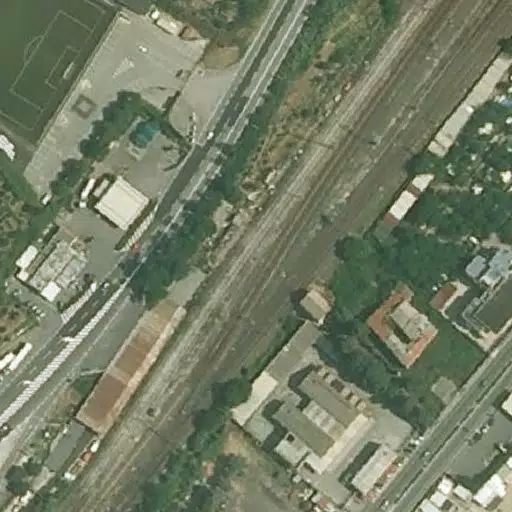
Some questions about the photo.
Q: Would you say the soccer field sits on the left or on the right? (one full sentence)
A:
It is on the left.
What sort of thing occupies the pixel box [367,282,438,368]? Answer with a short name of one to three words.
house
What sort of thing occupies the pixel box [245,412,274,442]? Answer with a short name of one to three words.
shed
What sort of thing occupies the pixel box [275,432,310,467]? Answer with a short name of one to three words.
building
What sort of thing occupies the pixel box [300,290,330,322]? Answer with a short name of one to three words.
house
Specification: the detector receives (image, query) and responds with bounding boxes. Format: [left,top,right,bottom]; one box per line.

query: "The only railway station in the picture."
[74,271,207,438]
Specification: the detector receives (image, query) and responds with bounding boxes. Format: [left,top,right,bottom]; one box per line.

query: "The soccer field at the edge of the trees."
[0,0,120,152]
